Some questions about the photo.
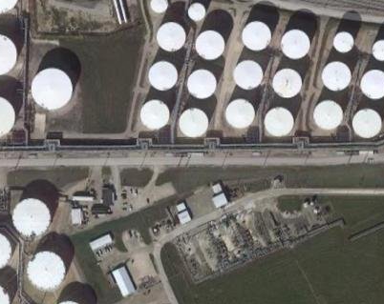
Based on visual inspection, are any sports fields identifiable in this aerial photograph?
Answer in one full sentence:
No, the scene contains no sports field.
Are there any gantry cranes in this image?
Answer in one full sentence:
No, no gantry crane is visible in the scene.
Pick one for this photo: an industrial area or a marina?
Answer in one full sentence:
The area seen from above is an industrial area.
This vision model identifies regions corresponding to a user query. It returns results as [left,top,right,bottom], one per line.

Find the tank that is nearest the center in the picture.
[179,108,210,138]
